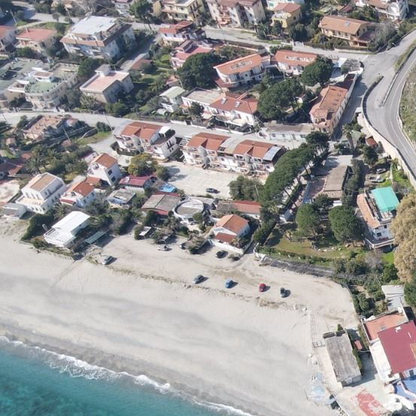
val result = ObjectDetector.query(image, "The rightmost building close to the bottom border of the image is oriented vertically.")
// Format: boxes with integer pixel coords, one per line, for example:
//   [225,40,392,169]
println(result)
[362,311,416,414]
